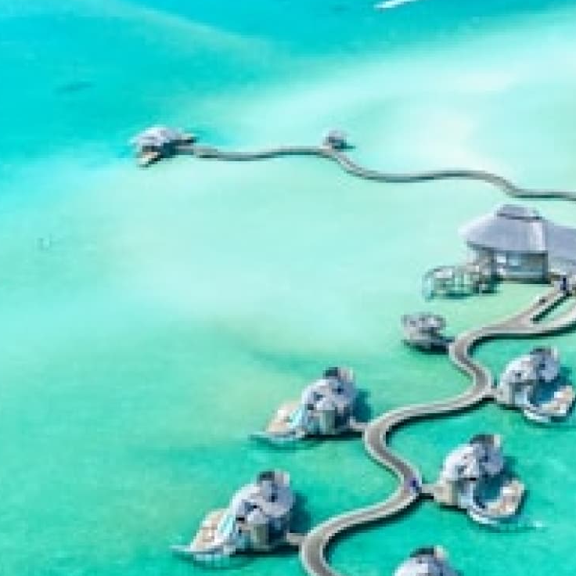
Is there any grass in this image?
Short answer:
No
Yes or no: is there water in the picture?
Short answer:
Yes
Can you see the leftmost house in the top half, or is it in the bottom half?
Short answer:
top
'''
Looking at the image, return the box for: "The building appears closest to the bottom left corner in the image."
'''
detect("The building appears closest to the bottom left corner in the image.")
[178,474,303,571]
